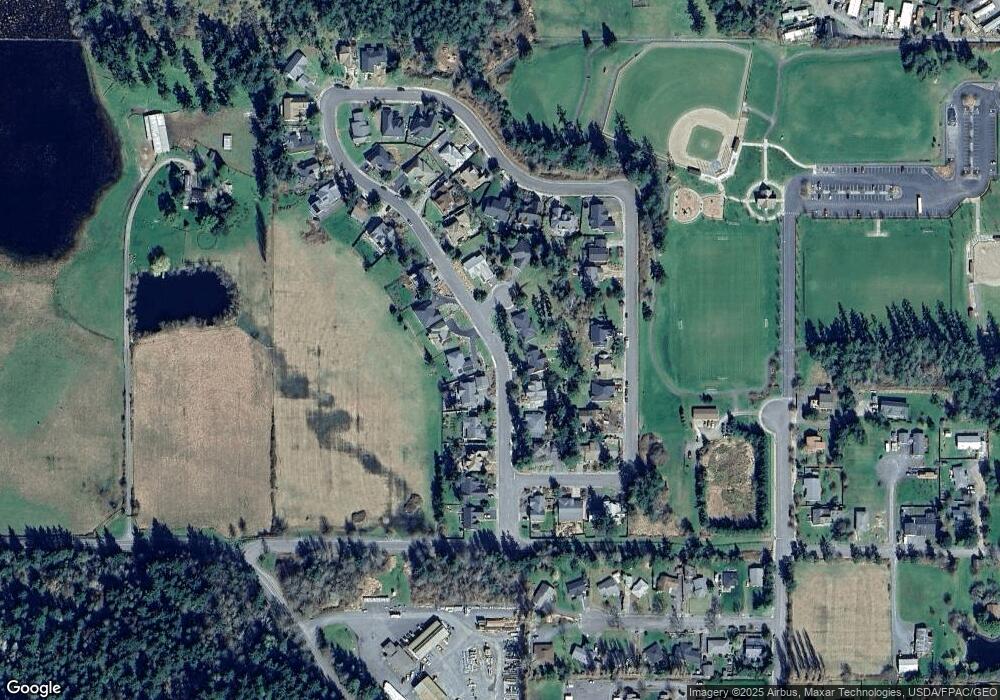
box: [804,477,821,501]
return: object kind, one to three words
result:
house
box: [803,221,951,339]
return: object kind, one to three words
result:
sports field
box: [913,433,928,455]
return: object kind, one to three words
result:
building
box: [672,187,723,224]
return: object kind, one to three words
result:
playground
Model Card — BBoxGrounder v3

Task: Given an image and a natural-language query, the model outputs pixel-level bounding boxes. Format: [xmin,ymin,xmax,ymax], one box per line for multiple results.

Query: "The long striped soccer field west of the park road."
[662,226,773,388]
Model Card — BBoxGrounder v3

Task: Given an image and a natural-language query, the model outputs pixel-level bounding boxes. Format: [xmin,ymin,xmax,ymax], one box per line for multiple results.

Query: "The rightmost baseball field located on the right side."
[974,241,1000,318]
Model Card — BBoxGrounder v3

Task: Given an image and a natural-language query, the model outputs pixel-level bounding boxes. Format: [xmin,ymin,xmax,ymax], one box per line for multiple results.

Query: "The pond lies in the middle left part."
[132,266,234,336]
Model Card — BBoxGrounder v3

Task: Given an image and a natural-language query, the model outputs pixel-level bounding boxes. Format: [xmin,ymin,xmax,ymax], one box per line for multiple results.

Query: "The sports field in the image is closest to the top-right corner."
[782,52,936,161]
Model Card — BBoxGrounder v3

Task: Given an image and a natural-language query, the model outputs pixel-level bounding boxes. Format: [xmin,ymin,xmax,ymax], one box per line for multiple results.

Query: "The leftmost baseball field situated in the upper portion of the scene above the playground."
[604,42,748,179]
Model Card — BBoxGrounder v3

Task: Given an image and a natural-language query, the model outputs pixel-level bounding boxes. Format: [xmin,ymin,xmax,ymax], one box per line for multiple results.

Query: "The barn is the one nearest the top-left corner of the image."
[146,112,166,150]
